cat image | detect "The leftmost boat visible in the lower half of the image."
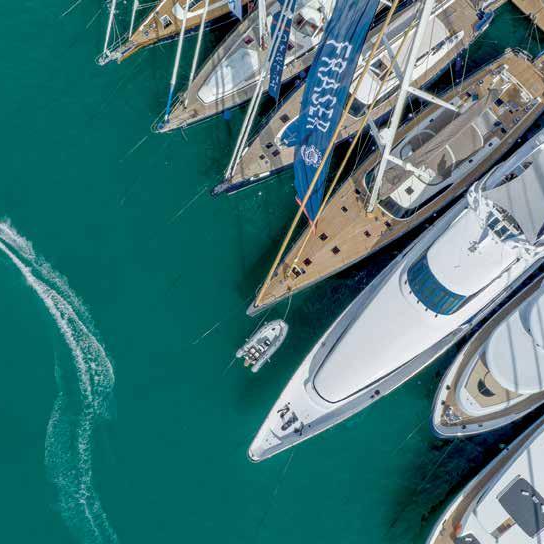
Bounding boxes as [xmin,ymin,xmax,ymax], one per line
[237,319,288,369]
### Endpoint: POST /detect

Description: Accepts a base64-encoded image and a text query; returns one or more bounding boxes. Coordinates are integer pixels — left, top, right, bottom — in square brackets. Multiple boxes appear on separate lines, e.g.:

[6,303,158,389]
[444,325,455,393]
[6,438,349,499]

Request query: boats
[248,0,544,316]
[237,319,288,369]
[156,0,335,135]
[430,270,544,434]
[249,130,544,460]
[431,416,544,544]
[92,0,249,64]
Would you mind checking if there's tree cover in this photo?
No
